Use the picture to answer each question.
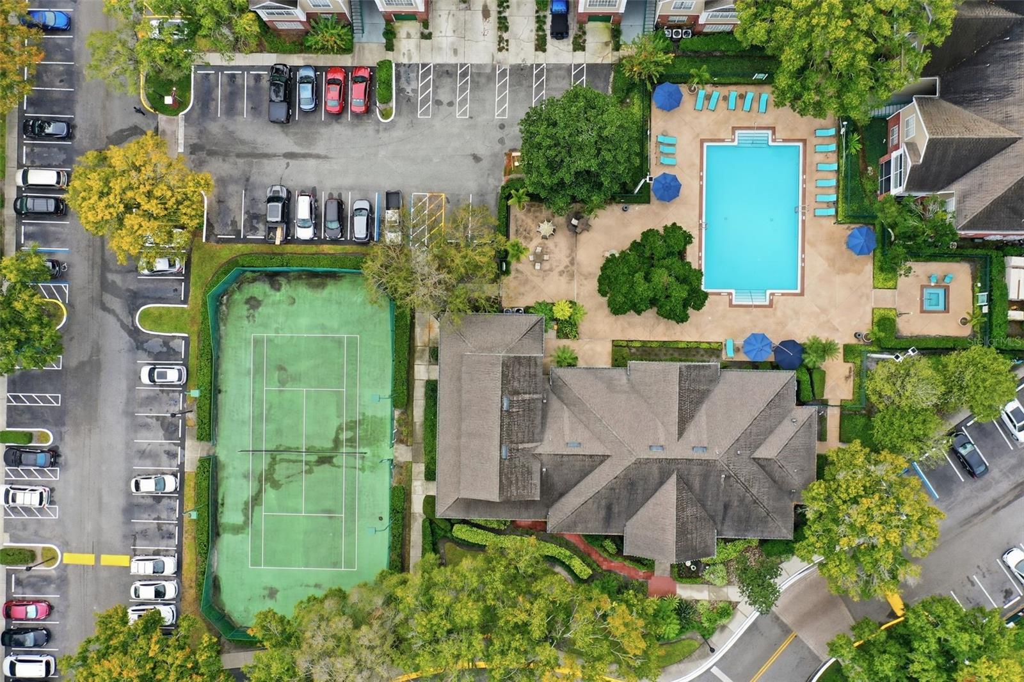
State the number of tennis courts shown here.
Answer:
one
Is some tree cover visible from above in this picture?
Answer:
Yes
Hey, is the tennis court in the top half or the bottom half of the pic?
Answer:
bottom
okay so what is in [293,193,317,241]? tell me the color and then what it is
white car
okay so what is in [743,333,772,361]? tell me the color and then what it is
blue umbrella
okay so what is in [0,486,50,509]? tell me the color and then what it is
white car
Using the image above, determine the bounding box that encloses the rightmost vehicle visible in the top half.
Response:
[547,0,571,43]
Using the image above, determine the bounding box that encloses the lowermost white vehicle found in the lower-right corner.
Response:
[1004,547,1024,588]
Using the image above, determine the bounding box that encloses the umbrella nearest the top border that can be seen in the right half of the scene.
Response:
[652,81,683,112]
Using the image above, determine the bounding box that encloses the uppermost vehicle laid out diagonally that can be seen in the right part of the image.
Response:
[950,431,991,480]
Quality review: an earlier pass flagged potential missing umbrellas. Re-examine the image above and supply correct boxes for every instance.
[651,173,681,202]
[575,216,592,233]
[537,219,555,238]
[773,340,803,369]
[652,81,683,112]
[846,227,876,255]
[743,333,772,361]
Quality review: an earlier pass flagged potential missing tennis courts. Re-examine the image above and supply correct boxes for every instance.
[214,271,395,631]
